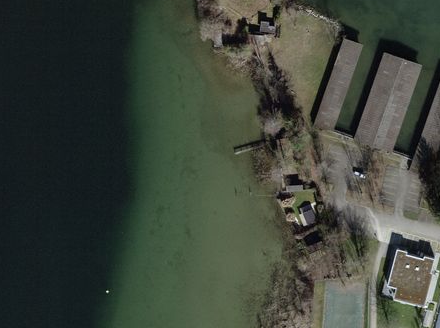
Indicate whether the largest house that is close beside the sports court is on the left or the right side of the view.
right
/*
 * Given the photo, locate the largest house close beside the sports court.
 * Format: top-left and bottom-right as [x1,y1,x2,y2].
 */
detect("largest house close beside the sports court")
[389,250,436,308]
